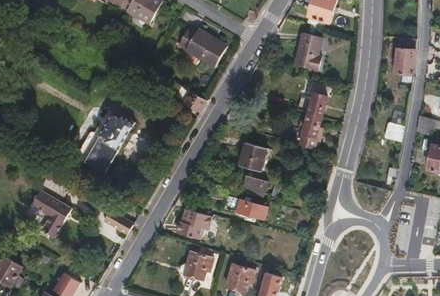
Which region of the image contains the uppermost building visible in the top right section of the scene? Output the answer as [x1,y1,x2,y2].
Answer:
[306,0,340,26]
